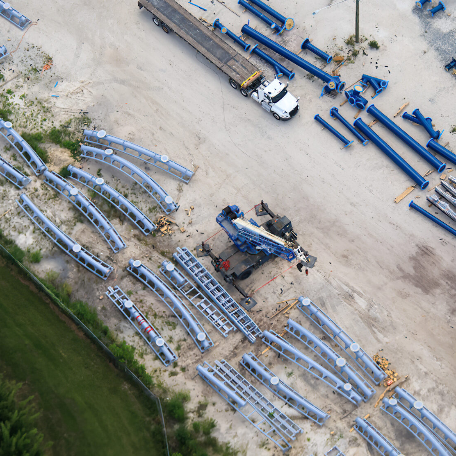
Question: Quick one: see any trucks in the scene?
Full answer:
Yes, looking at the shot, I can spot a truck.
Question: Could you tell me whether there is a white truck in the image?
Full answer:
Yes, a white truck can be made out from above.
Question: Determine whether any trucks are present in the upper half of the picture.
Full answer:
Yes, there is a truck in the upper half of the picture.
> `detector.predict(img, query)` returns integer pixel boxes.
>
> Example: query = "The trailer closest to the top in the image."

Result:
[138,0,260,87]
